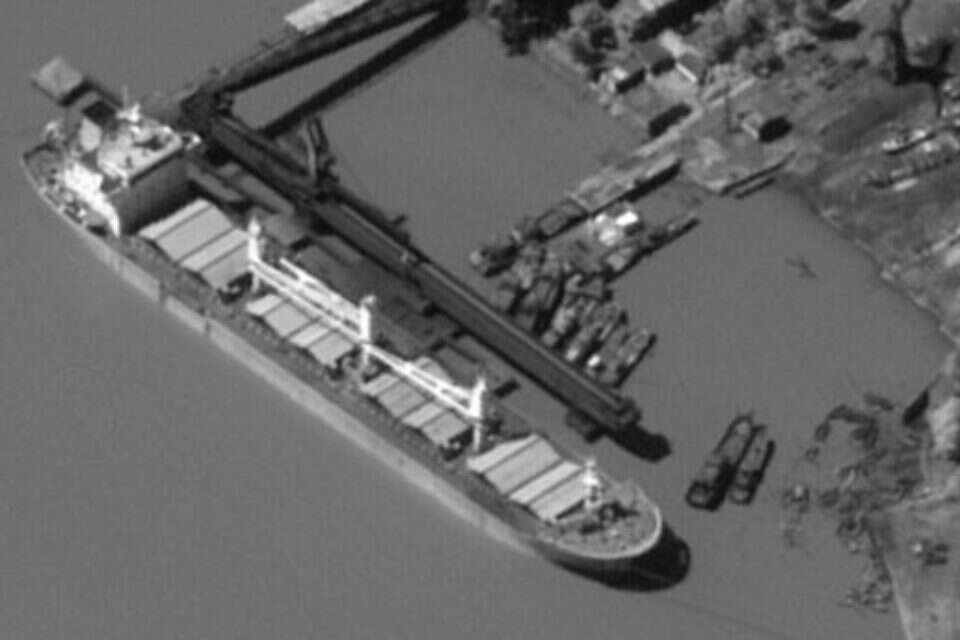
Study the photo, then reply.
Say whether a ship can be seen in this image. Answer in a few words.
Yes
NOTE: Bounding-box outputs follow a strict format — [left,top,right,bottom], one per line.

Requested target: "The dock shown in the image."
[567,143,687,217]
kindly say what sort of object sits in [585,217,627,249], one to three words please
boat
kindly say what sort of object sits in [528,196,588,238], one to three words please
ship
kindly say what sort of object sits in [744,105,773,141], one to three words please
house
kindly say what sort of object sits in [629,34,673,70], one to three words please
house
